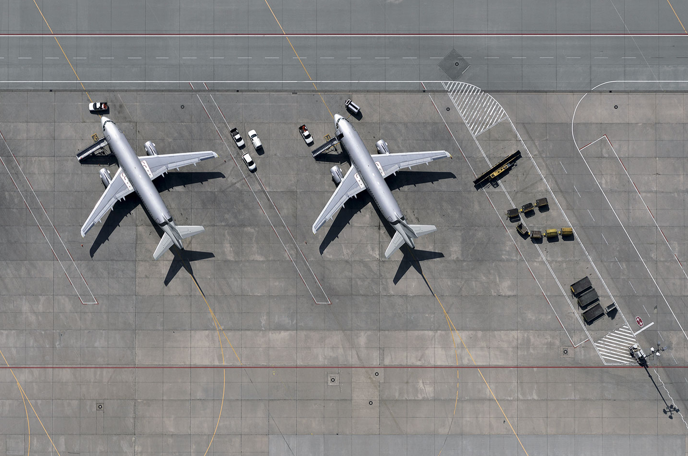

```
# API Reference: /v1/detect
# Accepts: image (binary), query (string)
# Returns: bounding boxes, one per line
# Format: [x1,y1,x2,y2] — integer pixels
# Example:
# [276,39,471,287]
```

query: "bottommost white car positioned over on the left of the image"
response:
[242,153,257,172]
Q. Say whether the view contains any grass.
No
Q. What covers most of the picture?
paved ground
